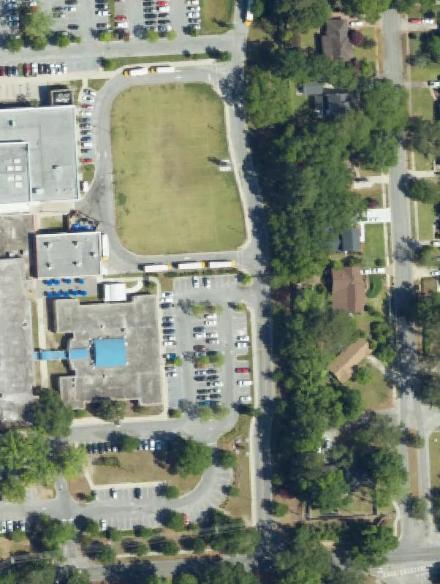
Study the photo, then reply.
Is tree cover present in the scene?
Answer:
Yes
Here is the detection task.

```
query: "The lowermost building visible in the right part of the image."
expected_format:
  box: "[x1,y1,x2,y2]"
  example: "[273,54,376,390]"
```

[327,338,371,384]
